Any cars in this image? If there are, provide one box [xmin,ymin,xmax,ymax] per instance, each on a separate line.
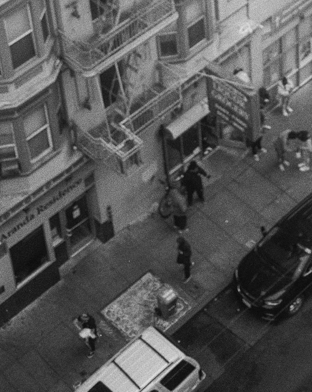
[72,319,208,392]
[223,182,312,328]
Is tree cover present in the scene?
No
